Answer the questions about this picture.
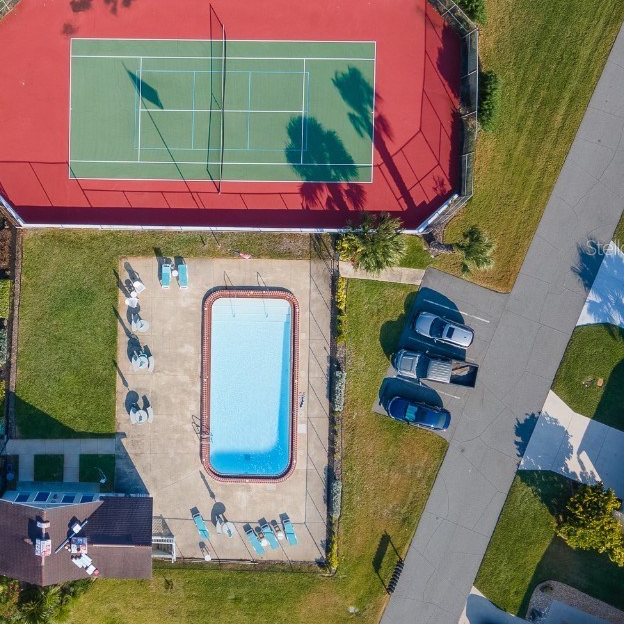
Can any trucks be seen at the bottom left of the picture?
No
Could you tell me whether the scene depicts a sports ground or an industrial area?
sports ground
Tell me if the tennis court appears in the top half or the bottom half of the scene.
top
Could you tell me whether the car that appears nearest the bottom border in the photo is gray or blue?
blue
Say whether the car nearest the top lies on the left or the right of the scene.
right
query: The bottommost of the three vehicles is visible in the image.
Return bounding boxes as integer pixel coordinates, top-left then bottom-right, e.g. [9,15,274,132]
[386,393,451,432]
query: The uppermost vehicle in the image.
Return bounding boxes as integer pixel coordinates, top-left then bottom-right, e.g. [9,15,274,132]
[414,310,476,352]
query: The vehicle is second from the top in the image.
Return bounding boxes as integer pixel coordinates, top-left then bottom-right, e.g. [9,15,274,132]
[391,345,481,391]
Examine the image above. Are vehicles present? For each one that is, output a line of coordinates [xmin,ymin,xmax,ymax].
[391,345,481,391]
[386,393,451,432]
[414,310,476,352]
